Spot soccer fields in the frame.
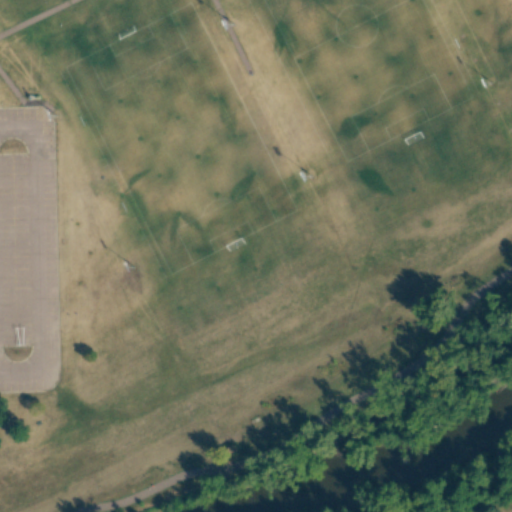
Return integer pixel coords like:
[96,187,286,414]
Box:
[457,0,512,109]
[68,4,296,274]
[269,0,476,161]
